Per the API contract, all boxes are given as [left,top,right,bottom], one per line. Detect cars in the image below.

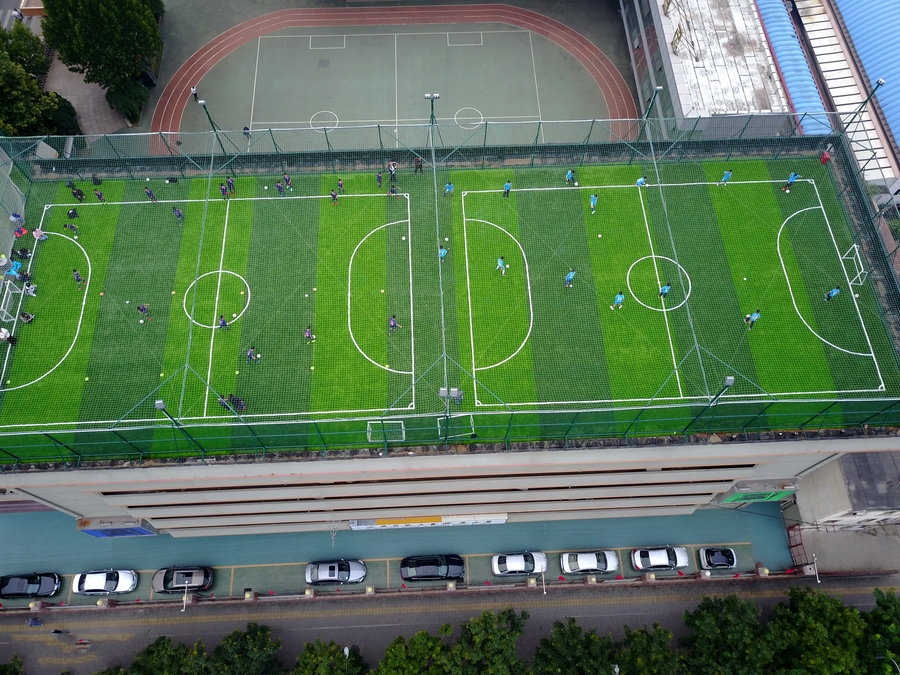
[399,552,466,583]
[305,556,367,586]
[559,547,619,577]
[697,544,738,570]
[0,570,62,600]
[490,548,547,578]
[151,565,214,596]
[628,543,689,572]
[70,567,139,597]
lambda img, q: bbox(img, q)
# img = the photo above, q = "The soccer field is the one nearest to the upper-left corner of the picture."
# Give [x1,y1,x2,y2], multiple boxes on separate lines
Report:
[0,192,416,426]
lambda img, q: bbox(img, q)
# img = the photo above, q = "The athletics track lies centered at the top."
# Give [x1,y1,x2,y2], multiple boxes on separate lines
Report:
[147,3,640,157]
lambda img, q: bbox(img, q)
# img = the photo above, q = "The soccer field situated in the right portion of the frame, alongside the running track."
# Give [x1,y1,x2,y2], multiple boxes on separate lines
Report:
[461,179,885,407]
